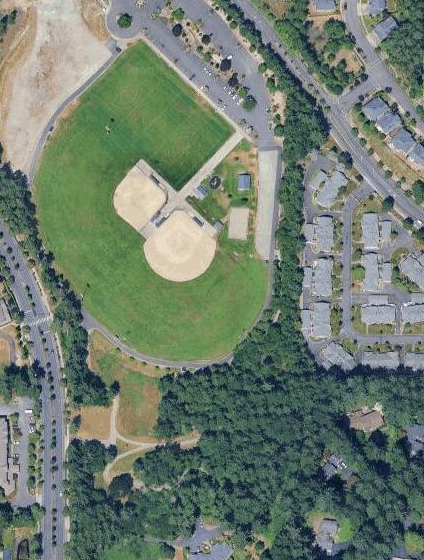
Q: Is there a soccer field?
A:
Yes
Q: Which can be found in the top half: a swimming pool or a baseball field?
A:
baseball field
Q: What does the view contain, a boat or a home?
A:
home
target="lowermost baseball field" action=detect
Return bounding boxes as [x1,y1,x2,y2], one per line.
[71,211,270,363]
